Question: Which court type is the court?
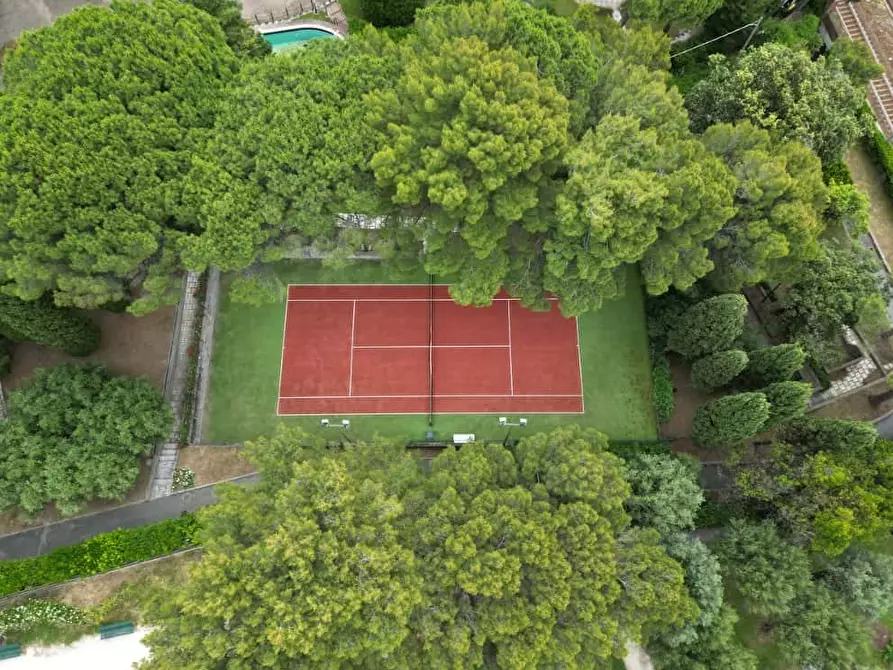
tennis court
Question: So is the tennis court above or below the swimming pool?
below it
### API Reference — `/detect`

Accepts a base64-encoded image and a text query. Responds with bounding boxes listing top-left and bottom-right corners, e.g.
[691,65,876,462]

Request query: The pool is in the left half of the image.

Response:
[256,24,348,63]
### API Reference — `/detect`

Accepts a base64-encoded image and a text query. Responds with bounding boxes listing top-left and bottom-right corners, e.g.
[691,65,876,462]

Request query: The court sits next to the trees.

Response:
[204,257,660,444]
